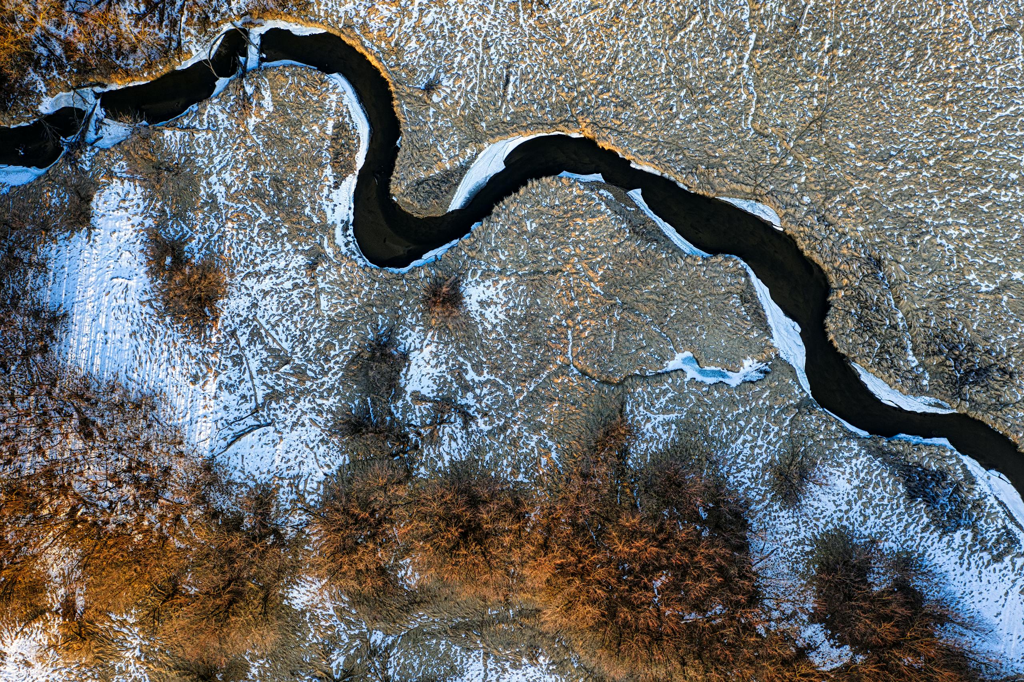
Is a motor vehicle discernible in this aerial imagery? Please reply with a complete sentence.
No, there isn't any motor vehicle down there.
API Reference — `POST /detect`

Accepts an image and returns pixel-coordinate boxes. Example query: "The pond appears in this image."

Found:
[651,351,770,390]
